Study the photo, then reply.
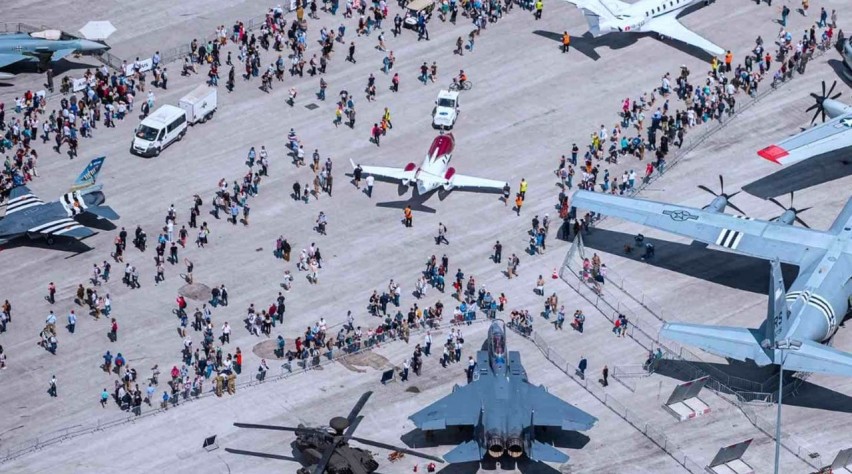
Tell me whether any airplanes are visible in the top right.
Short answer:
Yes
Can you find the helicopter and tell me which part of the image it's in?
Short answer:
bottom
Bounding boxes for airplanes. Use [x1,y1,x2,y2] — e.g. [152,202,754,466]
[566,0,726,53]
[759,44,852,169]
[0,27,114,74]
[407,313,599,464]
[346,130,512,199]
[0,157,115,249]
[566,173,852,385]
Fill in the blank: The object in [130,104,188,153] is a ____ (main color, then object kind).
white vehicle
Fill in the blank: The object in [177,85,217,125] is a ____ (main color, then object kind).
white trailer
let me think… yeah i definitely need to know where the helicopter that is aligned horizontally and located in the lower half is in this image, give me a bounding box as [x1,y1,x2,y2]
[238,388,439,474]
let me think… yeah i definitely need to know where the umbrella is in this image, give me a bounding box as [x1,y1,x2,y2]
[80,22,118,47]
